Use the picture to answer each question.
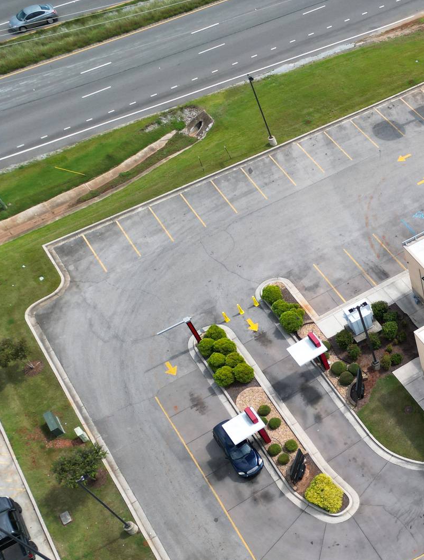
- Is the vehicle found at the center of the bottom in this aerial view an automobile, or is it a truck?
automobile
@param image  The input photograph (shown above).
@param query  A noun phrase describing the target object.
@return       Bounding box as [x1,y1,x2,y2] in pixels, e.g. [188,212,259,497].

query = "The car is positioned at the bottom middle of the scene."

[210,412,259,475]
